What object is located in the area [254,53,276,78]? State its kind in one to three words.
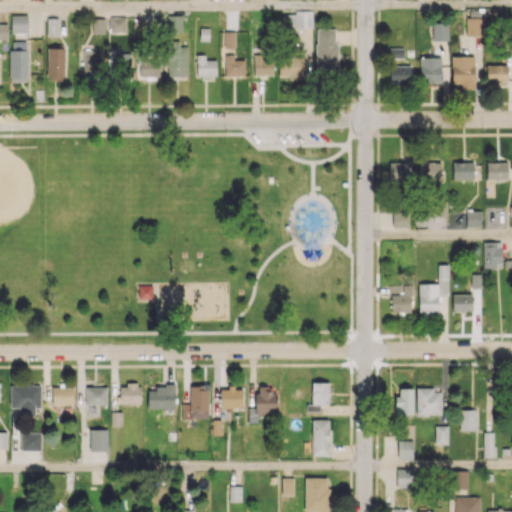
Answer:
house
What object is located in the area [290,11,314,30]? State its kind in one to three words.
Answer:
building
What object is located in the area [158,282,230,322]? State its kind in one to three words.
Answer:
playground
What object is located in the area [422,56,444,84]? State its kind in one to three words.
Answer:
house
